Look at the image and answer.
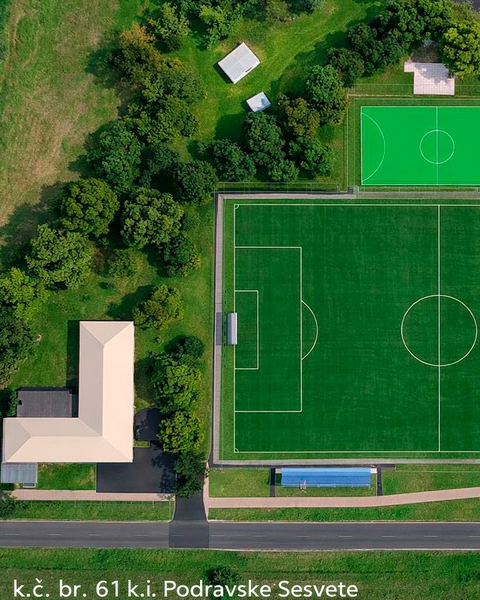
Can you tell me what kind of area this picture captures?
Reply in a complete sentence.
The area seen from above is a sports ground.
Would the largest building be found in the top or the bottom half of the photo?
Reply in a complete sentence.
It is in the bottom half that the largest building appears.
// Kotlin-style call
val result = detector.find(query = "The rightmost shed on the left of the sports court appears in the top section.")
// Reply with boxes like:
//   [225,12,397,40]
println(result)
[247,91,274,113]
